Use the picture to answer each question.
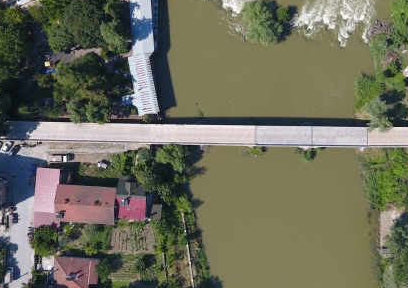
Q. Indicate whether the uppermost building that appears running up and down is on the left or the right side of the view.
left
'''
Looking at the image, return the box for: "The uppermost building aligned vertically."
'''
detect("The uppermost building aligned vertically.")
[130,0,155,49]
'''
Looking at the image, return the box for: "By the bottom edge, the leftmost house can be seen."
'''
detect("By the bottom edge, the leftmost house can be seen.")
[53,253,92,288]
